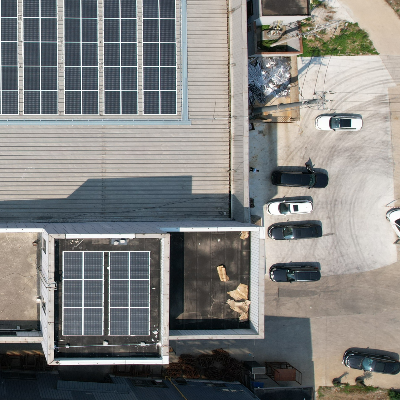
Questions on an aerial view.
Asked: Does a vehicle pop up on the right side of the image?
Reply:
Yes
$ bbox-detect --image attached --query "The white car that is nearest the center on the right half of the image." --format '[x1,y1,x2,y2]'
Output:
[265,199,314,217]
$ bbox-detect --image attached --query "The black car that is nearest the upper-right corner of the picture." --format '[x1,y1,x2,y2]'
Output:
[270,160,328,187]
